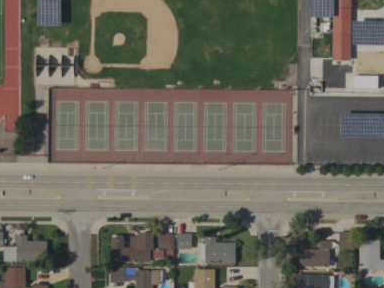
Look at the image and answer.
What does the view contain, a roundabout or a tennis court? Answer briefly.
tennis court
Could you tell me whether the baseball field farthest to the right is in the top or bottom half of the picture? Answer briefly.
top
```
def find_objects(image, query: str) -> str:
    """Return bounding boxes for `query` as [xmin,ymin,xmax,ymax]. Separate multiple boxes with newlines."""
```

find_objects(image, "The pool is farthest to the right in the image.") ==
[364,275,384,288]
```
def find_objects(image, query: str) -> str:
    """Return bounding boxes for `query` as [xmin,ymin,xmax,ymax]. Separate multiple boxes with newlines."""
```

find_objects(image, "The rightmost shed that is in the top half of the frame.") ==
[354,75,379,88]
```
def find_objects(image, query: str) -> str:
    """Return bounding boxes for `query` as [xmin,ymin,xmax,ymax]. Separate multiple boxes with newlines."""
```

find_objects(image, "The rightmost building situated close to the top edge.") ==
[333,0,352,60]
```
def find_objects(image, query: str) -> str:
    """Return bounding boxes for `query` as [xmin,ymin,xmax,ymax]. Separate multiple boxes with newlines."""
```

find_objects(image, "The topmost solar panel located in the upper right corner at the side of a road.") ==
[311,0,335,16]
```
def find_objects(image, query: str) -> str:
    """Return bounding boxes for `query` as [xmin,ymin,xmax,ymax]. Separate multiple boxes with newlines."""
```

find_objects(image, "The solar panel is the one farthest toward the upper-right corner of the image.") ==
[352,20,384,44]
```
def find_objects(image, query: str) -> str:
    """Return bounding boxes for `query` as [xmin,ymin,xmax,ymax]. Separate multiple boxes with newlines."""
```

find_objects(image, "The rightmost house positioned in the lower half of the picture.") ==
[360,240,384,272]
